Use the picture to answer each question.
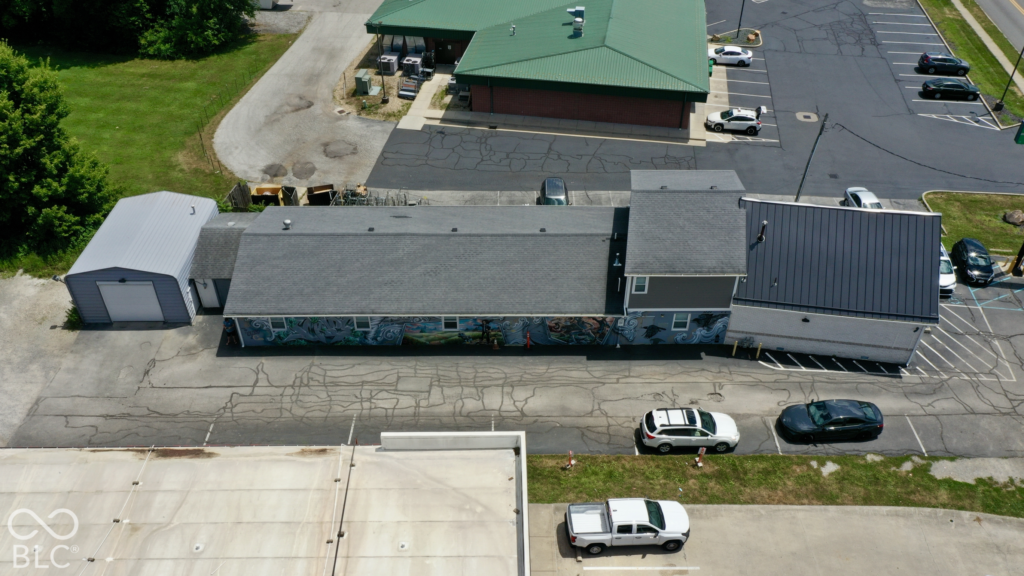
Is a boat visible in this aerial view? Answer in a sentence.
No, there appears to be no boat in this shot.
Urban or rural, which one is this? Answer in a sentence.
The area shown here is urban.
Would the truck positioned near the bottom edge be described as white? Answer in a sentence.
Yes, the truck positioned near the bottom edge is indeed white.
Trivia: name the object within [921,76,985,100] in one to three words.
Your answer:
car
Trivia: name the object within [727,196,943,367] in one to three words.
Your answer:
building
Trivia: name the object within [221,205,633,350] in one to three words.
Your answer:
building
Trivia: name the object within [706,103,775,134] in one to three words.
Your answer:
car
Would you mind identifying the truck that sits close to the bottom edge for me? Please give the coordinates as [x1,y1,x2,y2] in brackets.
[562,495,698,555]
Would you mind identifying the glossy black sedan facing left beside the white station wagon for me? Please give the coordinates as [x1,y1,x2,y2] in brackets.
[780,397,889,442]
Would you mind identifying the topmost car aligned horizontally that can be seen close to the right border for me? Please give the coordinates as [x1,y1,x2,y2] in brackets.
[918,50,975,75]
